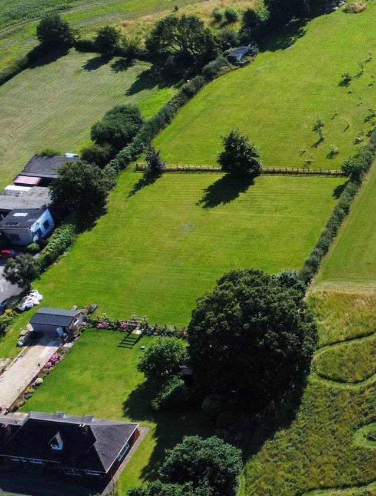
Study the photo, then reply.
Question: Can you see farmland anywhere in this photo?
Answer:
Yes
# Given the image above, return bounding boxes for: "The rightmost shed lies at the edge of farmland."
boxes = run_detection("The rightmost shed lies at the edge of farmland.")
[218,44,255,66]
